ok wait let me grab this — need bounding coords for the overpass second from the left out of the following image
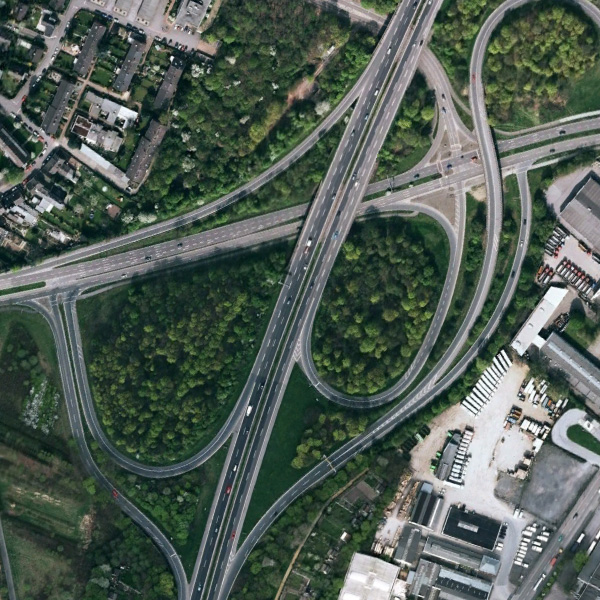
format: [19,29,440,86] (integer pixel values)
[373,0,437,70]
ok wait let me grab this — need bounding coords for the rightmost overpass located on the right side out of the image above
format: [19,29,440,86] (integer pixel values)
[471,100,504,226]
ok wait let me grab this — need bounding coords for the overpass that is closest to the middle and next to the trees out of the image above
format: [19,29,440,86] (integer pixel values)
[303,161,369,249]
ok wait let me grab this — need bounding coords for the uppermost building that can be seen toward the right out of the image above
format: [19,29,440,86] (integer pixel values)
[560,176,600,251]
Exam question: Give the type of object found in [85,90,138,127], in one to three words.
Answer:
building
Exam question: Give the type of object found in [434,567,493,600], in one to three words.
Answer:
shed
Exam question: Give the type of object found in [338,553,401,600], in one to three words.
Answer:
building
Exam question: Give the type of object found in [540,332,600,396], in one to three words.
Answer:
shed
